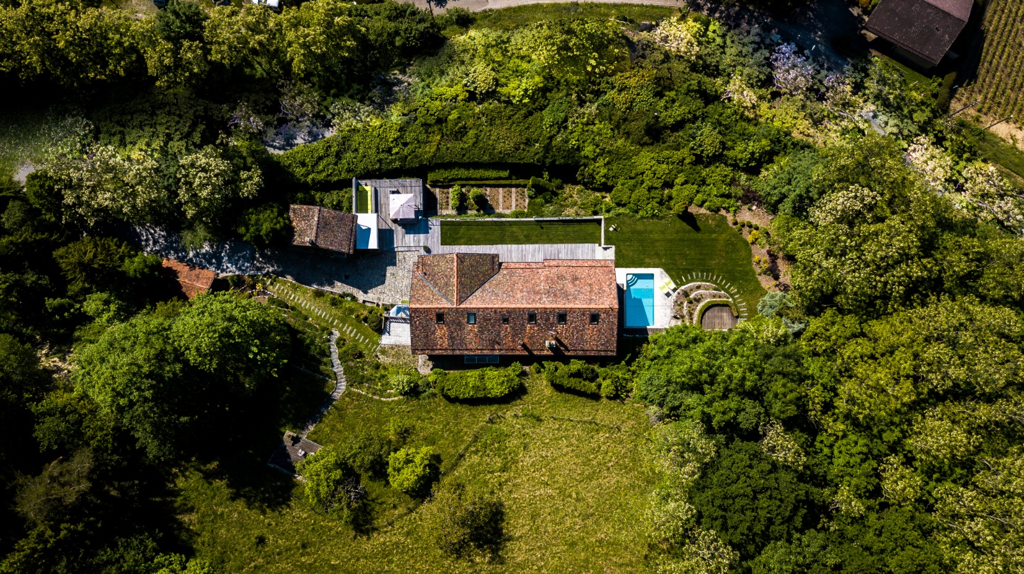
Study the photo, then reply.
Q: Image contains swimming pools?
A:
Yes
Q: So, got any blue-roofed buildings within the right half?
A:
No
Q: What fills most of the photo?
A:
trees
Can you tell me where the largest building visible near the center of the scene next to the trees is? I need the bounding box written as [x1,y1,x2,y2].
[409,252,619,364]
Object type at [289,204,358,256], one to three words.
shed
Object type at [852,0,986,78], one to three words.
house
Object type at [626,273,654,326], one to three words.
swimming pool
